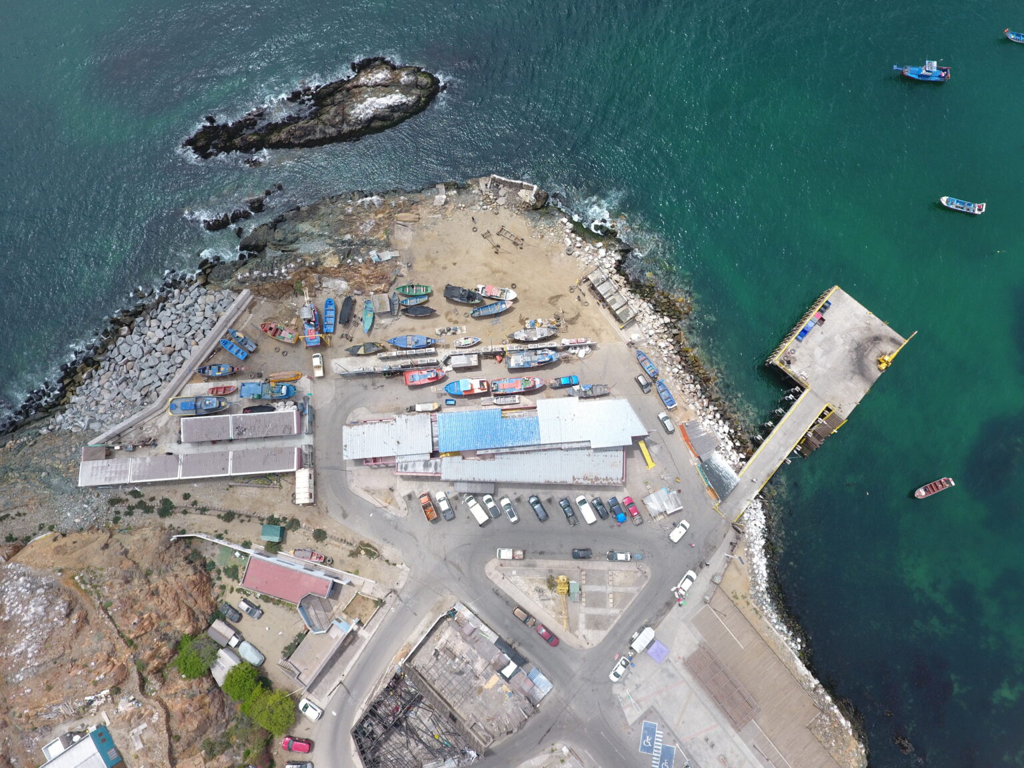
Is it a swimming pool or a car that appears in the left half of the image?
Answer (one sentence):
There is a car in the left half of the image.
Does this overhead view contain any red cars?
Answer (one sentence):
Yes, there's a red car down there.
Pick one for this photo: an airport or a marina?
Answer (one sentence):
This image shows a marina.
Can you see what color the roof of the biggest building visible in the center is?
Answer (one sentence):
The roof over the biggest building visible in the center appears white.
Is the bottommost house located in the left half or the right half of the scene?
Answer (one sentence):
The bottommost house appears in the left half of the scene.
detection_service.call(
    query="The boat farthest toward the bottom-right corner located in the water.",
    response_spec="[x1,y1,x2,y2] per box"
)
[914,476,957,498]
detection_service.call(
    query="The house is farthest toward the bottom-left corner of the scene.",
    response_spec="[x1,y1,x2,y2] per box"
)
[42,716,138,768]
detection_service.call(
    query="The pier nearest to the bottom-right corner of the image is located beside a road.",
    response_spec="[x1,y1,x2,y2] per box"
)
[713,285,905,522]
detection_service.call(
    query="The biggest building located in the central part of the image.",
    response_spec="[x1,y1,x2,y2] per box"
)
[343,397,648,493]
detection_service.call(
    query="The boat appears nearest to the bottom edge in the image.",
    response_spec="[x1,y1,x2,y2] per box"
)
[288,550,327,563]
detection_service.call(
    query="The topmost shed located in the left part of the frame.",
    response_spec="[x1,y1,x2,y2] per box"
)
[371,293,391,315]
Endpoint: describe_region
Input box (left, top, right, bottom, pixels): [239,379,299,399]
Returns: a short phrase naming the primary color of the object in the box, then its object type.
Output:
blue boat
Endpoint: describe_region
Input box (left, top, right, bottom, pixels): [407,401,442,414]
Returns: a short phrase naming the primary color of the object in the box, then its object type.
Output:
white vehicle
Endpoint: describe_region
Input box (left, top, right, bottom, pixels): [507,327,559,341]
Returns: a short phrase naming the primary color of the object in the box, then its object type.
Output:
white boat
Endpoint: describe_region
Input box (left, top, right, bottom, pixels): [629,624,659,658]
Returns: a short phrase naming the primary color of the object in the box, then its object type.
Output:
white truck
